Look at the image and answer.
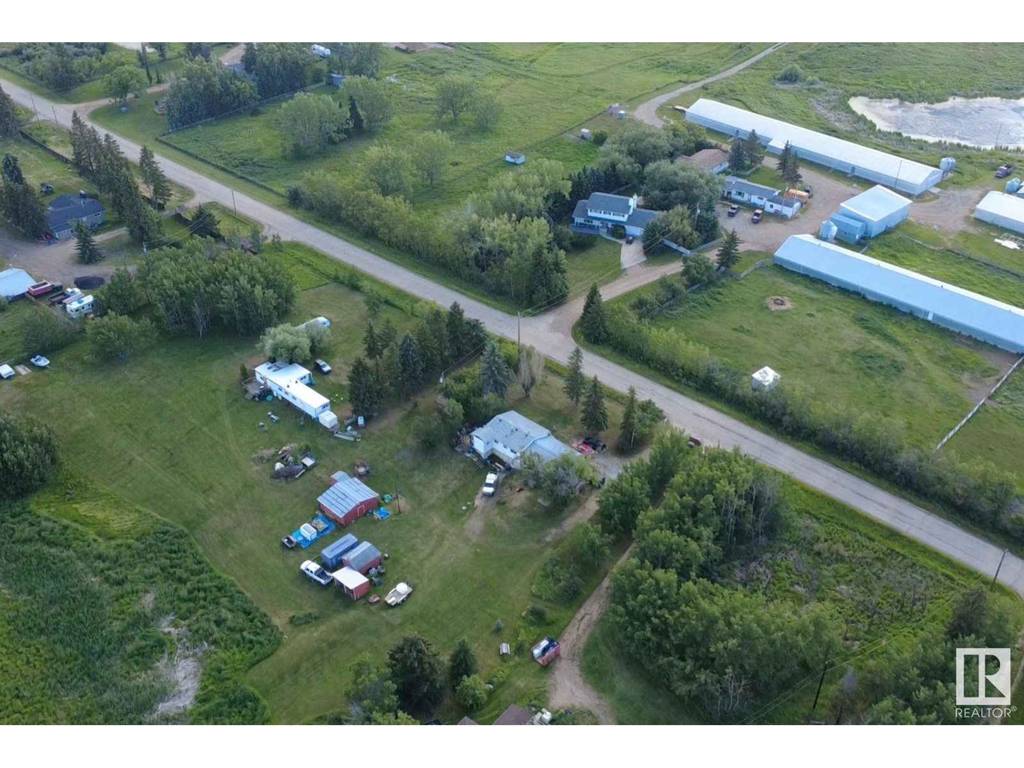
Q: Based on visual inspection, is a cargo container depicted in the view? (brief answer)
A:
Yes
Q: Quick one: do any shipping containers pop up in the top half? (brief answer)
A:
No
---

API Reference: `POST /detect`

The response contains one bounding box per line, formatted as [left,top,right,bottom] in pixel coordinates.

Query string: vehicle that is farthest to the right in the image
[996,161,1017,176]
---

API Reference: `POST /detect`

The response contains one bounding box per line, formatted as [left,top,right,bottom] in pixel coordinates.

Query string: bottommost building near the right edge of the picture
[772,232,1024,355]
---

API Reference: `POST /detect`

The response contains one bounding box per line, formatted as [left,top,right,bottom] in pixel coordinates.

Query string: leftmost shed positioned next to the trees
[0,260,38,303]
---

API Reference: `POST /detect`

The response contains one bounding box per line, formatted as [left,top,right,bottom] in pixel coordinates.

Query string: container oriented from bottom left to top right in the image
[322,533,354,568]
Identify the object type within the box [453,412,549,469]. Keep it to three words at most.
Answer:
house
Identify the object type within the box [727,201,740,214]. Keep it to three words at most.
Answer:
vehicle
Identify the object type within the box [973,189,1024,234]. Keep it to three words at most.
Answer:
barn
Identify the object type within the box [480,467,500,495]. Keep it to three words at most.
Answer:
vehicle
